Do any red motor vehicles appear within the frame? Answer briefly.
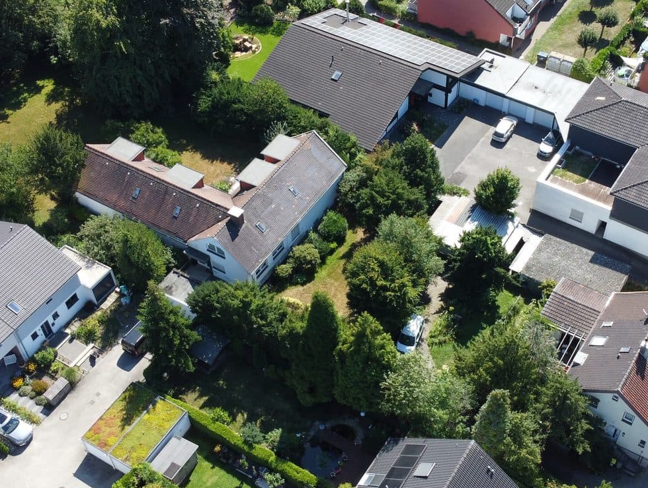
No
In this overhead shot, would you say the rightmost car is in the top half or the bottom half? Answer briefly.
top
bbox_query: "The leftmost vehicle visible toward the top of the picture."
[491,109,520,138]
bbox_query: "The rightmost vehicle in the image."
[538,127,563,155]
